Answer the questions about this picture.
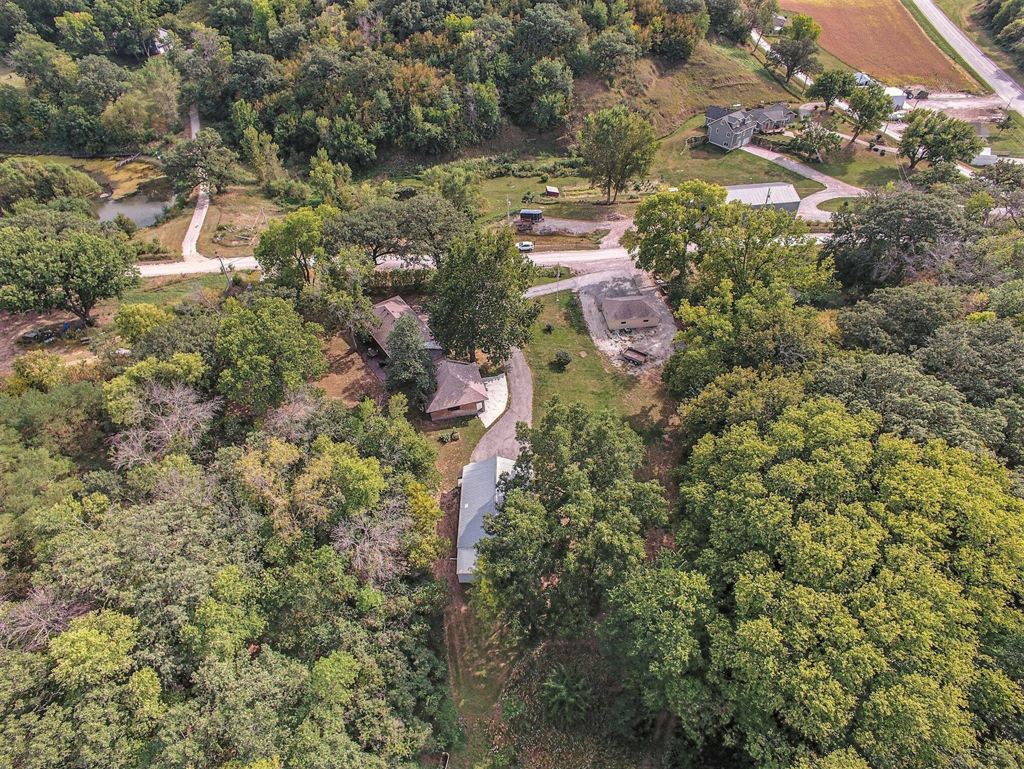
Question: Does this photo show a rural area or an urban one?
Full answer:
It looks rural.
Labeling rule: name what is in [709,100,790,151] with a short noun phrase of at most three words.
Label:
house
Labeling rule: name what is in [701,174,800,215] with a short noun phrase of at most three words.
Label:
barn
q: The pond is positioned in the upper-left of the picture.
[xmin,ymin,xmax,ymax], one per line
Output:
[0,155,178,229]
